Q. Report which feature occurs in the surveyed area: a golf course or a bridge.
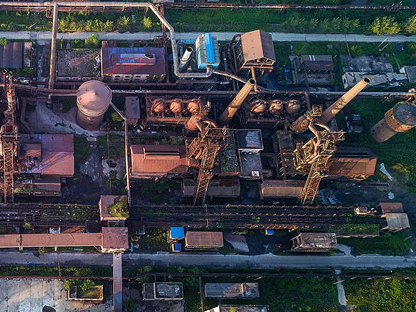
bridge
